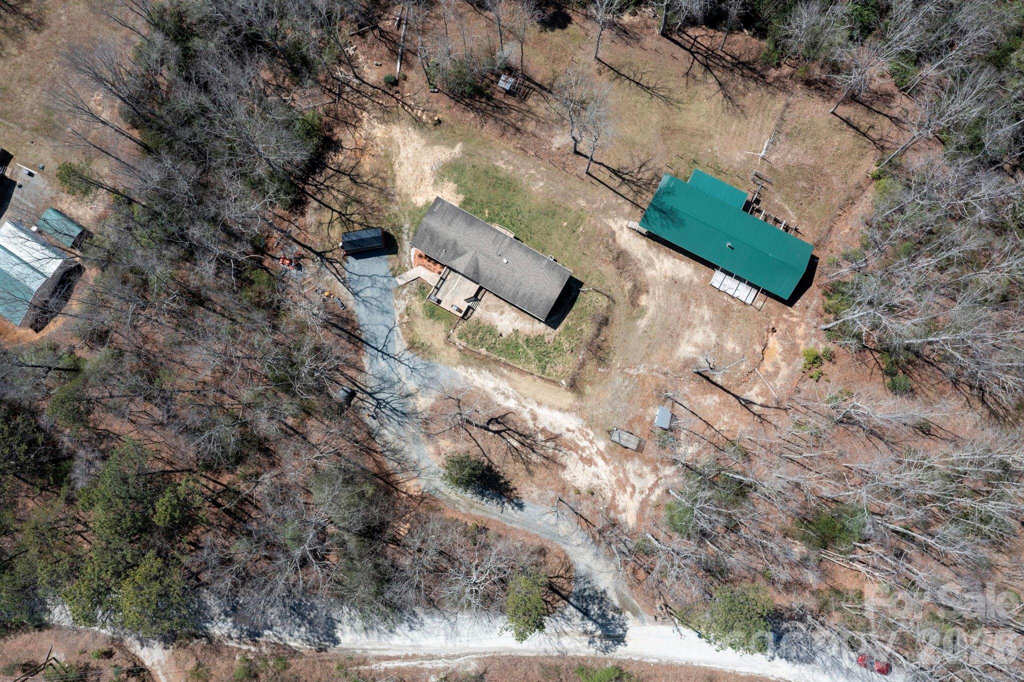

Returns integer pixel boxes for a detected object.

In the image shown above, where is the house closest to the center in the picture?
[410,197,572,322]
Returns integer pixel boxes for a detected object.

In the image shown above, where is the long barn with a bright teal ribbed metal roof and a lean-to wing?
[638,169,814,300]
